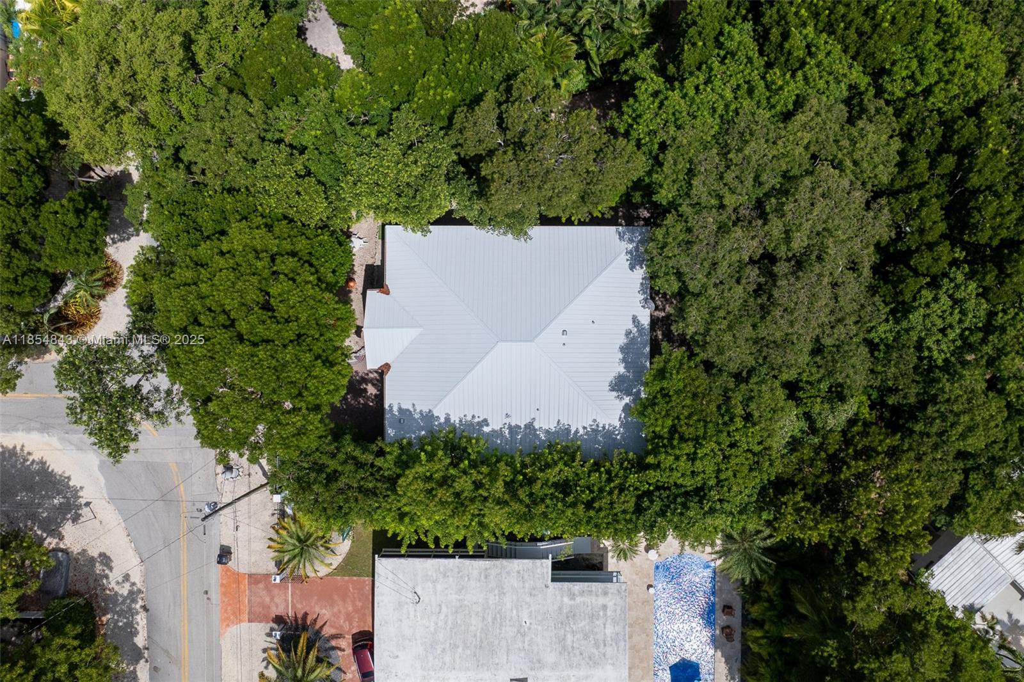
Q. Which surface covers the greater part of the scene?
trees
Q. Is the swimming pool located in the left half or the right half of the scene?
right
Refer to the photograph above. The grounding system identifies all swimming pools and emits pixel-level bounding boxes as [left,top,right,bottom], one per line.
[651,550,718,682]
